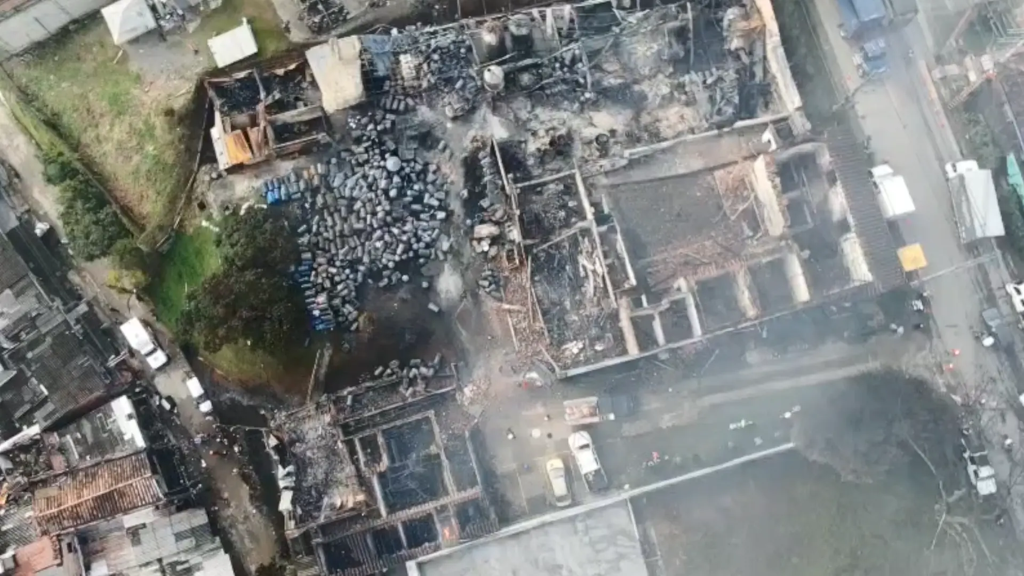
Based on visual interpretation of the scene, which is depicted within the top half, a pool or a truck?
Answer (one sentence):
The feature located within the top half is a truck.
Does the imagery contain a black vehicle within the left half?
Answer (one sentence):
No, within the left half there is no black vehicle.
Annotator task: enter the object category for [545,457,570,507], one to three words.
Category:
car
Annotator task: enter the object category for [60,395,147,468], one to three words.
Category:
house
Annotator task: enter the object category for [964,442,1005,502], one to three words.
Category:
truck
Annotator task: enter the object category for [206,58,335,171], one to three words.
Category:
shed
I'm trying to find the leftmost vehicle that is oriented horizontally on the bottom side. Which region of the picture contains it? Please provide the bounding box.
[564,395,637,426]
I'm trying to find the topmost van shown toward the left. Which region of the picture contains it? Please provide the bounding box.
[111,316,166,371]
